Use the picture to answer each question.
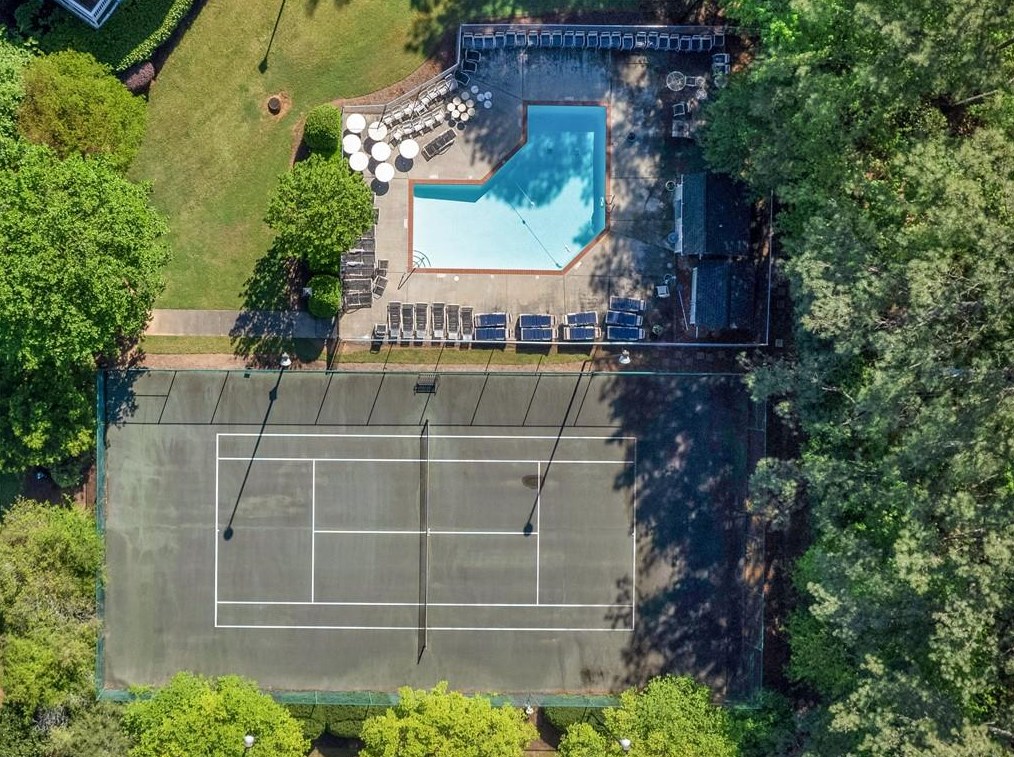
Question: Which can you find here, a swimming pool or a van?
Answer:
swimming pool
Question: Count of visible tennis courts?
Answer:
1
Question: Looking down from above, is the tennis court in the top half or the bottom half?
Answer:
bottom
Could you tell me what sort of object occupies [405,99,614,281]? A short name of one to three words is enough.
swimming pool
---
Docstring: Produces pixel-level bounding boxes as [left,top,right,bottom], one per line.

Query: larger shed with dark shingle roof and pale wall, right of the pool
[674,171,747,260]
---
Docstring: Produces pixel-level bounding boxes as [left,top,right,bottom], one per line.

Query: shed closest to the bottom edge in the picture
[690,265,754,335]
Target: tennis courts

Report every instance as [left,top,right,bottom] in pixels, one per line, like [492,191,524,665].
[105,373,750,692]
